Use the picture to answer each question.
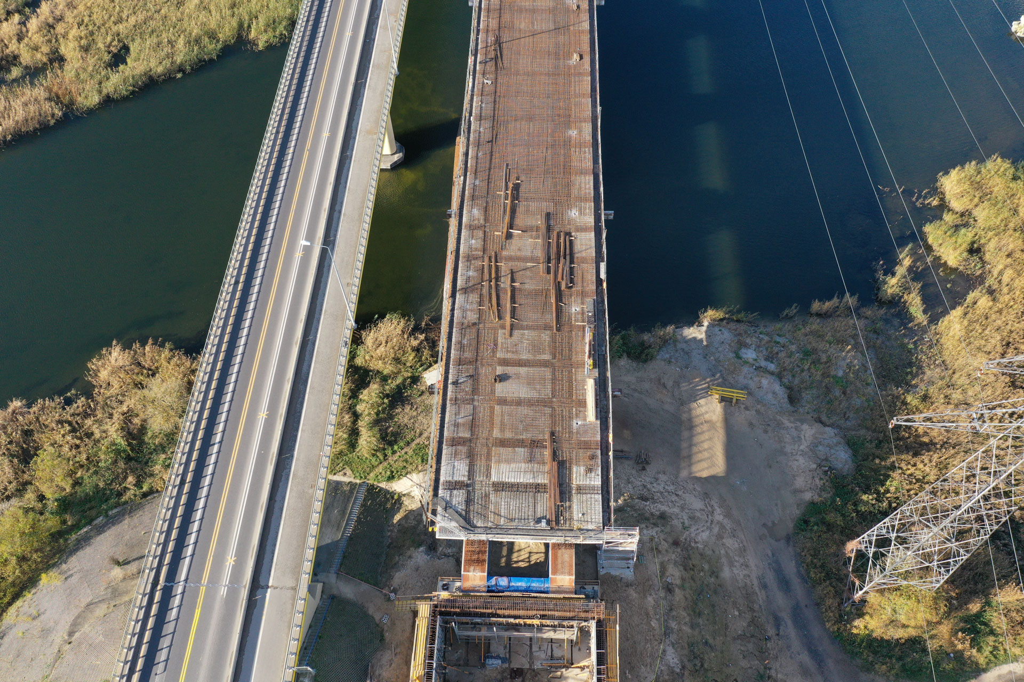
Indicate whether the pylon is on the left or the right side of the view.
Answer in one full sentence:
The pylon appears in the right half of the scene.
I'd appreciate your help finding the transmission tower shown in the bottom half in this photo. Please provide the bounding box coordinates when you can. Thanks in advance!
[831,353,1024,607]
